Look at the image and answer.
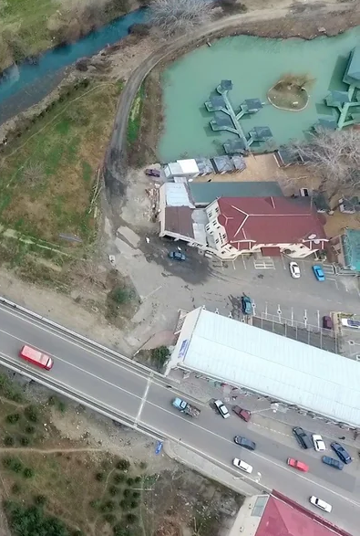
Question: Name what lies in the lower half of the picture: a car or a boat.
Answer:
car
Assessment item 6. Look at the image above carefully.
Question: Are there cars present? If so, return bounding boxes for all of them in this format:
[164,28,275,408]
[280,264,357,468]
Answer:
[143,167,162,180]
[328,440,354,465]
[320,313,334,332]
[212,398,231,419]
[240,295,253,315]
[285,456,309,474]
[167,250,187,262]
[230,404,251,424]
[289,425,313,450]
[230,456,255,475]
[287,261,301,278]
[309,431,326,454]
[308,494,333,515]
[320,453,344,472]
[232,433,256,451]
[341,317,360,330]
[310,263,327,284]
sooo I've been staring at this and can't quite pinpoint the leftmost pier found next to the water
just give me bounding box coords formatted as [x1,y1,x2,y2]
[223,91,255,152]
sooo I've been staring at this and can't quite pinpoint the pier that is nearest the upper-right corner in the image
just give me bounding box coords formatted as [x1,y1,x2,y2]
[335,87,360,134]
